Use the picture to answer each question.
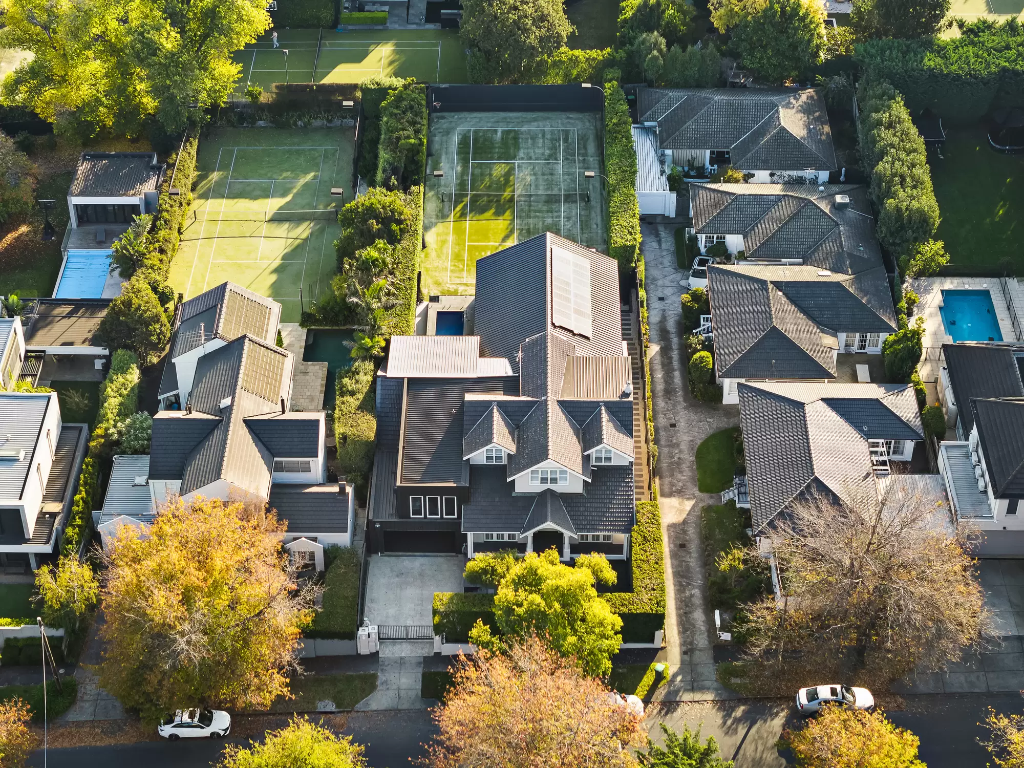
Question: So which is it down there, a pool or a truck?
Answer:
pool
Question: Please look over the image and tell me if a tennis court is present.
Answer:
Yes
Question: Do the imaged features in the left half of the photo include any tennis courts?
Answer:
Yes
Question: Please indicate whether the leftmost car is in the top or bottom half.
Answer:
bottom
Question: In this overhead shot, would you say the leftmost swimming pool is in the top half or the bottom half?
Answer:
top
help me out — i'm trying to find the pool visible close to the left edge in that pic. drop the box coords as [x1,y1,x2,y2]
[42,221,133,298]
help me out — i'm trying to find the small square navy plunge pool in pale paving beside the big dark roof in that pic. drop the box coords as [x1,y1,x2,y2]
[427,296,475,334]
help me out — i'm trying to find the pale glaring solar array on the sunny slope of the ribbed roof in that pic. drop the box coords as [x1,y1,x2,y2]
[553,244,590,336]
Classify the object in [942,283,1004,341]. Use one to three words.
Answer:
swimming pool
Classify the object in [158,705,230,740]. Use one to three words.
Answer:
car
